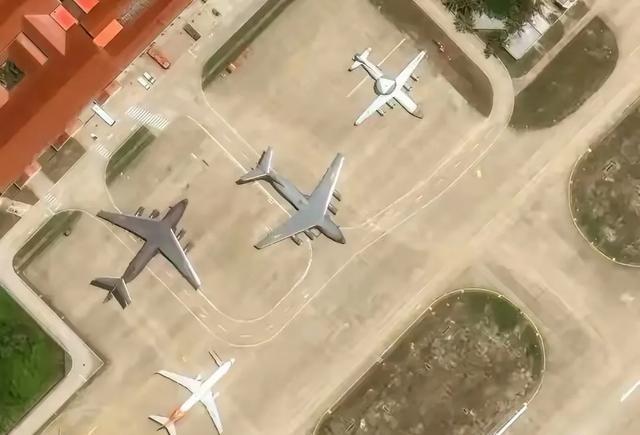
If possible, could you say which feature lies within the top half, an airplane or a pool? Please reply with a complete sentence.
Looking within the top half, you will find an airplane.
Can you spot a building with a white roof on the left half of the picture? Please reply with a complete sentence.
No, looking on the left half of the picture, there is no building with a white roof.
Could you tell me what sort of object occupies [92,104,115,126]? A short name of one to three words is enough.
bus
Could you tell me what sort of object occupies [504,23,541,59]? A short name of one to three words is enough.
house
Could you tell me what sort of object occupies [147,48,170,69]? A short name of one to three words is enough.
vehicle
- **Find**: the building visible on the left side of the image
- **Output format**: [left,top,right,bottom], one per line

[0,0,194,195]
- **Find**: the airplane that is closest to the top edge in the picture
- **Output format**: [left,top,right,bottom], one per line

[349,47,426,126]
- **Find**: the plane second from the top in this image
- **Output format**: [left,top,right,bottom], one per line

[239,145,345,250]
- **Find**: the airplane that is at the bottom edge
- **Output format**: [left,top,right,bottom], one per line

[149,358,235,435]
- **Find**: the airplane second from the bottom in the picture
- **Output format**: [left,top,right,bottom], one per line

[92,200,198,308]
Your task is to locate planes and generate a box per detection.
[149,358,235,435]
[92,200,198,308]
[349,47,426,126]
[239,145,345,250]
